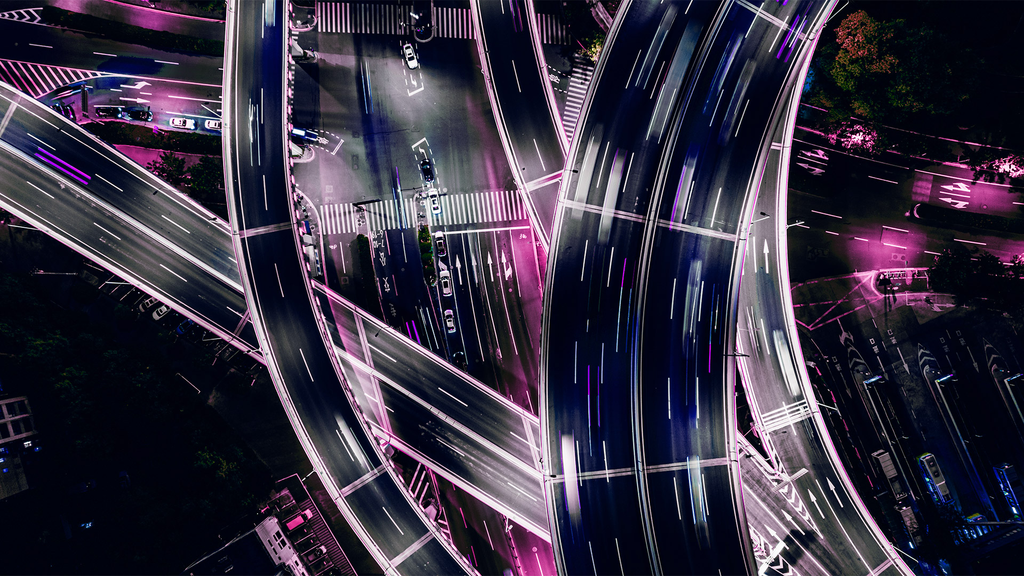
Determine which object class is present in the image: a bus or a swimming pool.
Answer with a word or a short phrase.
bus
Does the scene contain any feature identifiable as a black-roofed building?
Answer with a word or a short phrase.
Yes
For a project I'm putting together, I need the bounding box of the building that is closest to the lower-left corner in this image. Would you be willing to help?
[0,449,51,498]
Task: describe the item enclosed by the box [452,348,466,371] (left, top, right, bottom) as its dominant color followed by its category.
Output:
black car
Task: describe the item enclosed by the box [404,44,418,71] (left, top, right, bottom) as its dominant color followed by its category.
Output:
white car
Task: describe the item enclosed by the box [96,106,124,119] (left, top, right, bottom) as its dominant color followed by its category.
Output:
black vehicle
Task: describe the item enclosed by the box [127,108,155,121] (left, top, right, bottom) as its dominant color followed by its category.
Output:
black vehicle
